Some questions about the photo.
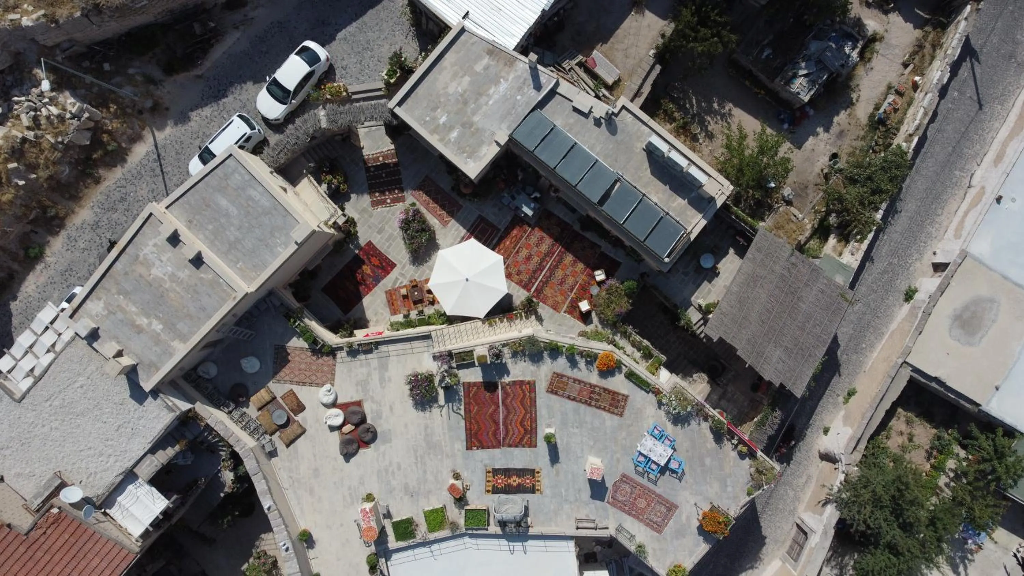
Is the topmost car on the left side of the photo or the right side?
left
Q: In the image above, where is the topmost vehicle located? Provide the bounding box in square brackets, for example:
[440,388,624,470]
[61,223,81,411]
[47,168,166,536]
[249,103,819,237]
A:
[256,37,331,129]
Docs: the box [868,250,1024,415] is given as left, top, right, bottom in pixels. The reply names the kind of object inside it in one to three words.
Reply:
house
